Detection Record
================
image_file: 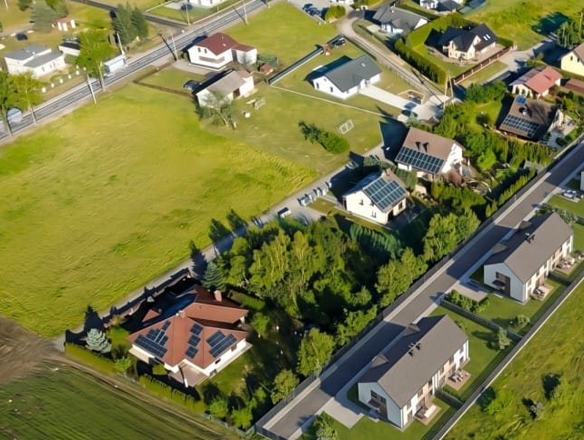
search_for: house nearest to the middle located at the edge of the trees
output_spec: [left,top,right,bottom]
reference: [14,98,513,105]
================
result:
[340,165,407,223]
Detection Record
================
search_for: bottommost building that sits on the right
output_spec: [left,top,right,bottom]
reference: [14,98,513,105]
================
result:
[353,312,471,428]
